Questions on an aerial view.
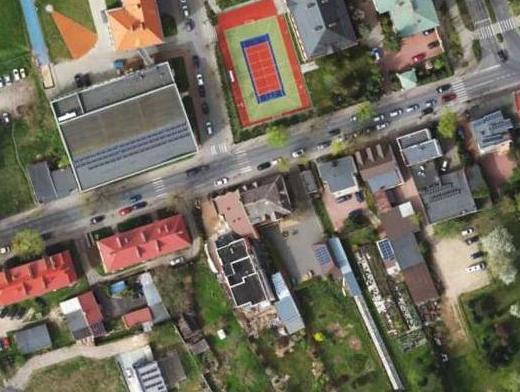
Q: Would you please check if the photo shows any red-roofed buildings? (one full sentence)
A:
Yes, a red-roofed building can be made out from above.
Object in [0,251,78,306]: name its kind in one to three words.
house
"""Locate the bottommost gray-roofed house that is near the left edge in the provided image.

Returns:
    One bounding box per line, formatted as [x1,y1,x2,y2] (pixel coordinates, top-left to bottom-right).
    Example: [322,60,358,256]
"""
[15,324,51,353]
